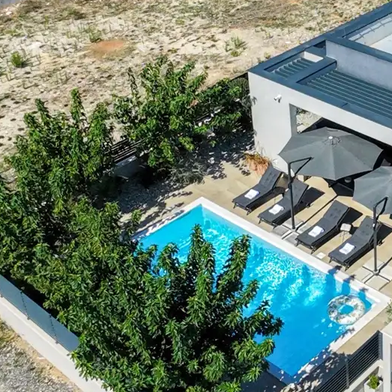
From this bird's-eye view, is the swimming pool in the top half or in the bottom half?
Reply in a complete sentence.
You can find the swimming pool in the bottom half.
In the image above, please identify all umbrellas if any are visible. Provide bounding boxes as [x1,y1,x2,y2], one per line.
[271,126,386,241]
[350,167,392,290]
